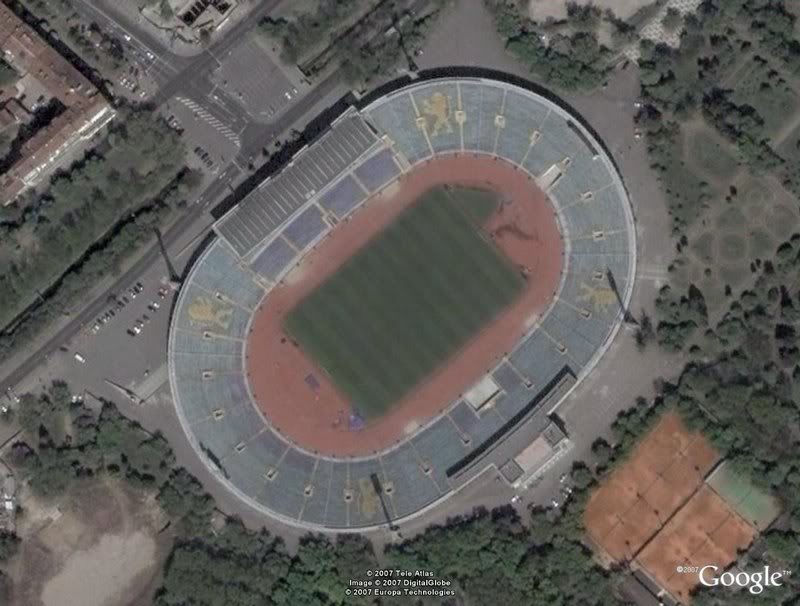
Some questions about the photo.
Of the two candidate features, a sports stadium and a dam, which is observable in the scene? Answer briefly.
sports stadium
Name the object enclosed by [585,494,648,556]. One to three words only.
tennis court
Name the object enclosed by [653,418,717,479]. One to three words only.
tennis court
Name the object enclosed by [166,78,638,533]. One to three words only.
stadium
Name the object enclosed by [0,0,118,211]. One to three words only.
building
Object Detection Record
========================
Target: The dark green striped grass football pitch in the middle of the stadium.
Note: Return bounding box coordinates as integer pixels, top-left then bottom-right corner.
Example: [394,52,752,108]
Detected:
[286,187,526,417]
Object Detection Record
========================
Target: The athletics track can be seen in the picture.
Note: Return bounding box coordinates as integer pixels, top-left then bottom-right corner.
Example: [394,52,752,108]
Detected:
[243,151,568,460]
